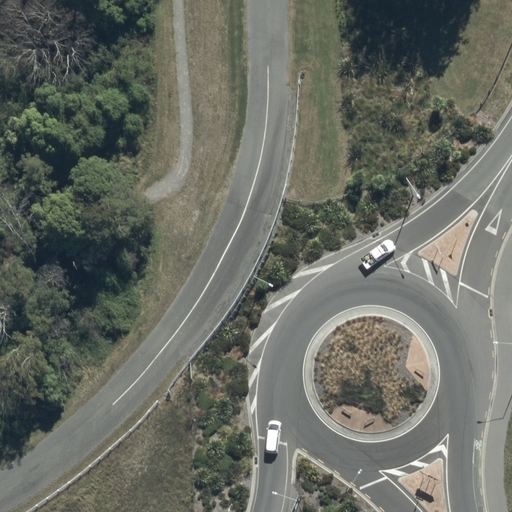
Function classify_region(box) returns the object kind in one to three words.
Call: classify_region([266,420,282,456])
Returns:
vehicle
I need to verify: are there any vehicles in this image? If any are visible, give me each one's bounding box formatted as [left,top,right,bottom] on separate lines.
[266,420,282,456]
[360,240,396,269]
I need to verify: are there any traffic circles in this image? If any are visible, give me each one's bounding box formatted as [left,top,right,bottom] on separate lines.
[248,106,512,512]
